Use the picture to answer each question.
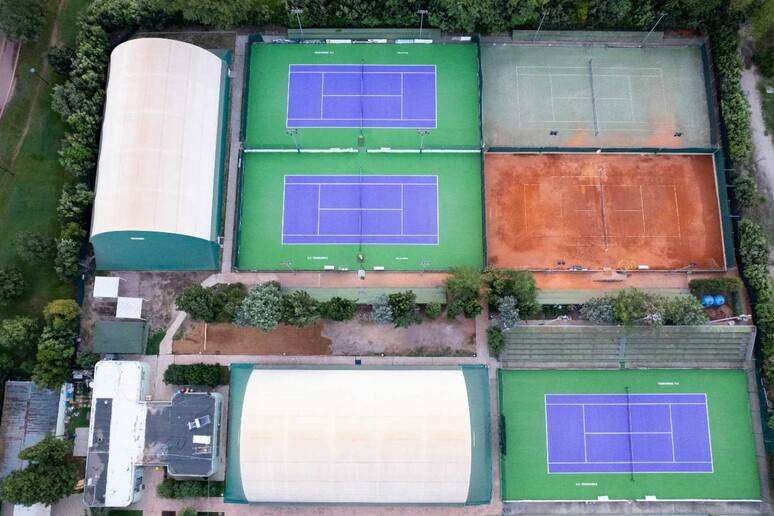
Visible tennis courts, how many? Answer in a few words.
5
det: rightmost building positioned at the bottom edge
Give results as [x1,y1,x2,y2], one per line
[224,364,492,507]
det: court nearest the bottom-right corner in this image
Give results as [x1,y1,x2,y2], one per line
[500,370,761,502]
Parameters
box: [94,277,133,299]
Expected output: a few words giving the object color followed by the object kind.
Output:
white gazebo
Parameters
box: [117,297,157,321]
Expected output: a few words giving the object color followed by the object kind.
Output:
white gazebo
